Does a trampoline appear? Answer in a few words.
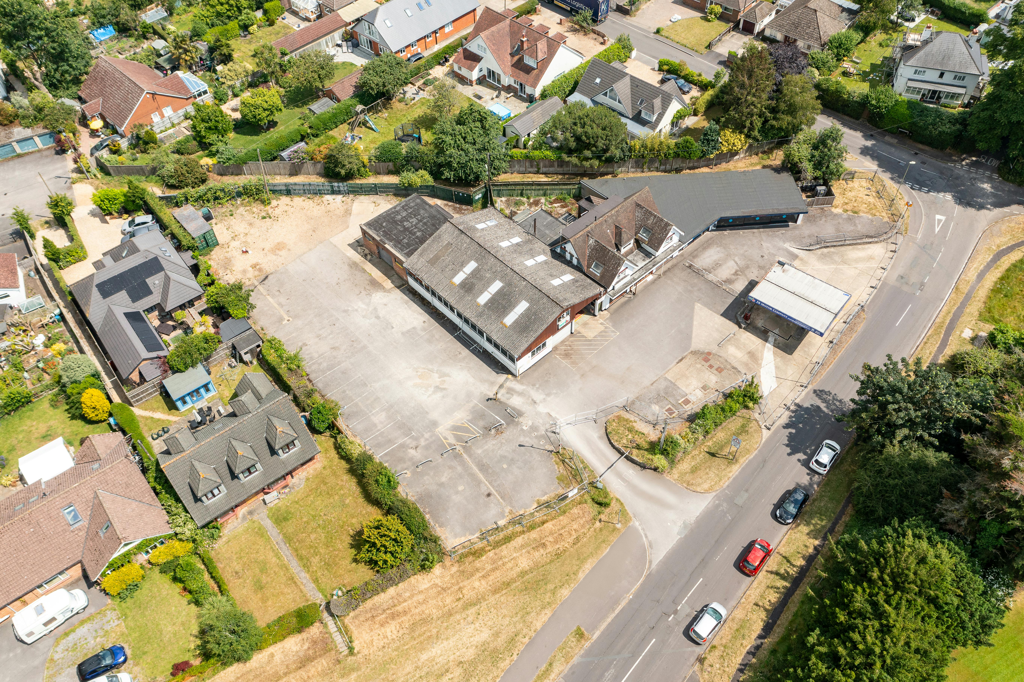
Yes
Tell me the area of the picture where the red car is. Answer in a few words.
bottom right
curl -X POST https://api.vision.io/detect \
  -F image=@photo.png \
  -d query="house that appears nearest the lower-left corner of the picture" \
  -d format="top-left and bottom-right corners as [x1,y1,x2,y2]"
[0,431,175,623]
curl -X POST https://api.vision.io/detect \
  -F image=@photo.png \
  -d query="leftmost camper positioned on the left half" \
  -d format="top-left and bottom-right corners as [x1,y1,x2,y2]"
[14,592,91,641]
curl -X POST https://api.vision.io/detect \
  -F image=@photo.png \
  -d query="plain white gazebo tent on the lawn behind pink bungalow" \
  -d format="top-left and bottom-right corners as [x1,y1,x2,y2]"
[18,442,76,488]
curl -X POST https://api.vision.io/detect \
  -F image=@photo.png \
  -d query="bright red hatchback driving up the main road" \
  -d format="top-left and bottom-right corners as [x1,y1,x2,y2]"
[739,538,771,578]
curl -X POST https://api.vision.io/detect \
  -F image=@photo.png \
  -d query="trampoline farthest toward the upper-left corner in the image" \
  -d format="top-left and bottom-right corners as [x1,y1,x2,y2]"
[393,119,421,145]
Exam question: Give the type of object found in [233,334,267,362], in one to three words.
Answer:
shed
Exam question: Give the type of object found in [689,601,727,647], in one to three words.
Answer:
car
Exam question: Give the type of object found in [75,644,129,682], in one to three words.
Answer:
car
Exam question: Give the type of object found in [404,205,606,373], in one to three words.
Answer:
building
